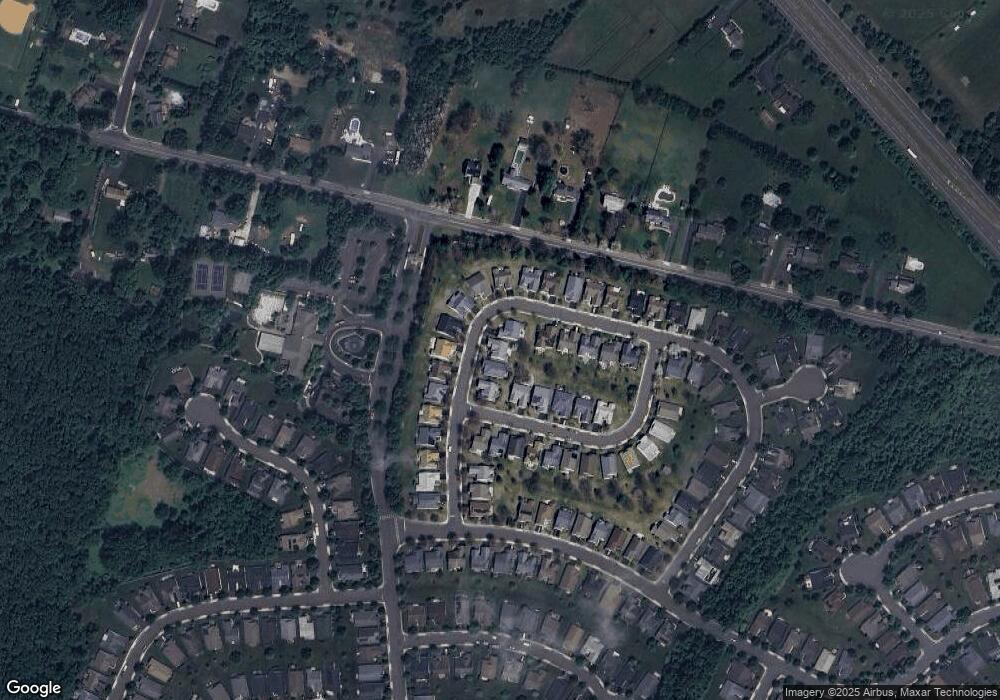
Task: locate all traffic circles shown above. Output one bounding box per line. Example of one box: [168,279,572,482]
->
[322,319,389,379]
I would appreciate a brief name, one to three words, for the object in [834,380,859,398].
house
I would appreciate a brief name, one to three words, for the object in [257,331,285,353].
building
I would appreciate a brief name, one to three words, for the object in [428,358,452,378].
house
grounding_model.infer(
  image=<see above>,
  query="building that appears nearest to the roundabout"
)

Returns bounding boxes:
[281,308,326,377]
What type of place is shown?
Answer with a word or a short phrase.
residential area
